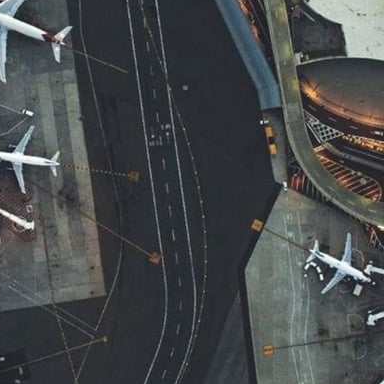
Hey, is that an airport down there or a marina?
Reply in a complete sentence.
The area seen from above is an airport.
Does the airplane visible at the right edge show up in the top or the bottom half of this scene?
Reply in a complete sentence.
It is in the bottom half that the airplane visible at the right edge appears.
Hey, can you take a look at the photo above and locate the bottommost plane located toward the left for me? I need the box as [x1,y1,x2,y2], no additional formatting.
[0,124,62,194]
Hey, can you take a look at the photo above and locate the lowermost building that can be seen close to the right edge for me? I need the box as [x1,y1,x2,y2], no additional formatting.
[296,58,384,123]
